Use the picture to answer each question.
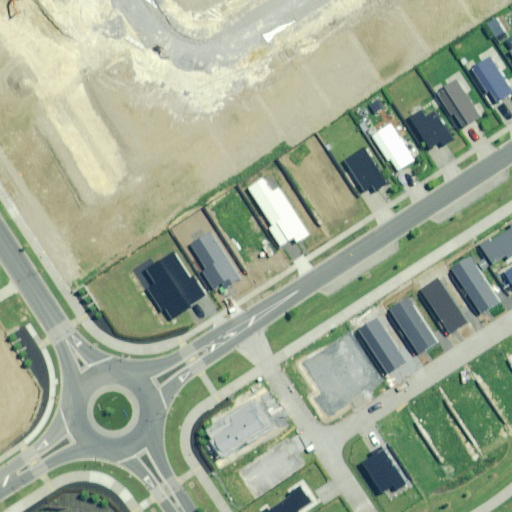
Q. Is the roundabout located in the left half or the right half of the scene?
left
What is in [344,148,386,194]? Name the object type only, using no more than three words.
house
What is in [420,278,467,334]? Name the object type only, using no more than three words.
house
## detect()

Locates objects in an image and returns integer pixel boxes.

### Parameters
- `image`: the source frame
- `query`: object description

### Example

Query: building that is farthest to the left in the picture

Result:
[146,252,204,318]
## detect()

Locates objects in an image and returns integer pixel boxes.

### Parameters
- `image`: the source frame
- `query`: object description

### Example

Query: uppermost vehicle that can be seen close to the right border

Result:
[498,103,511,119]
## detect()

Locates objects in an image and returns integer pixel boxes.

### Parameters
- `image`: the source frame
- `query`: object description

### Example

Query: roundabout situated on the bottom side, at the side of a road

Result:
[16,320,213,512]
